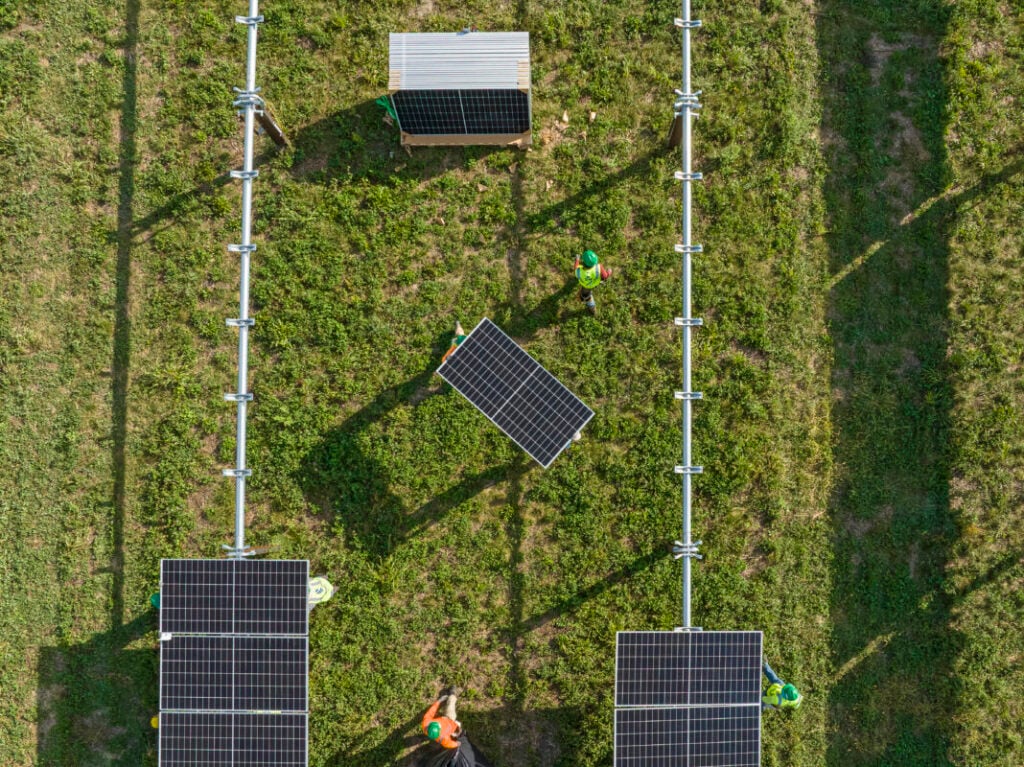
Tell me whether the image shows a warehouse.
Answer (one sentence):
No, I can see no warehouse in this picture.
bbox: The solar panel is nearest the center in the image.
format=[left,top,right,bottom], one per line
[436,317,593,469]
